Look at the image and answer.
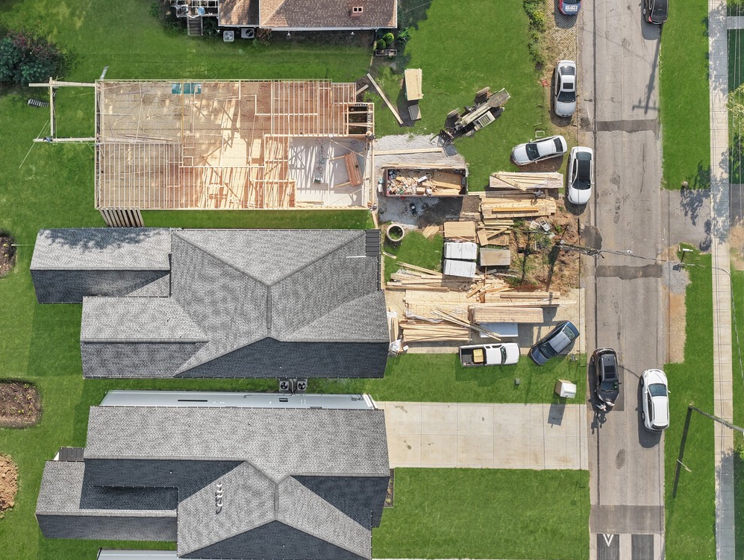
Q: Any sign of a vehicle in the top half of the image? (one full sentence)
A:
Yes, a vehicle appears in the top half of the image.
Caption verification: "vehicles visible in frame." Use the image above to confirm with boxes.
[455,341,520,370]
[555,0,584,18]
[637,0,669,24]
[507,134,569,167]
[588,345,624,411]
[636,368,672,433]
[562,145,596,205]
[426,86,517,153]
[525,316,581,368]
[549,58,581,118]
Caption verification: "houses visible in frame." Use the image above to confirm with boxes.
[29,226,389,379]
[217,0,398,35]
[35,390,389,560]
[94,79,374,210]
